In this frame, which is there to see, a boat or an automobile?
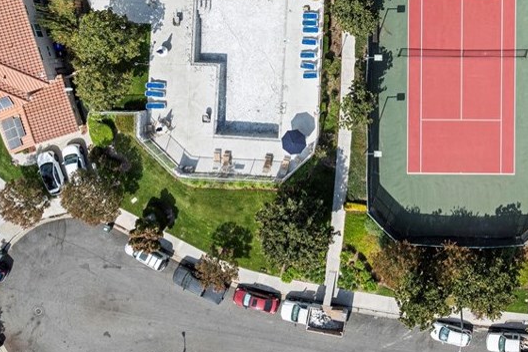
automobile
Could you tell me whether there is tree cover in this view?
Yes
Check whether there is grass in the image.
Yes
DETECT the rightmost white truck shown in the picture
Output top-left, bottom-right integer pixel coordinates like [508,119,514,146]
[485,328,528,352]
